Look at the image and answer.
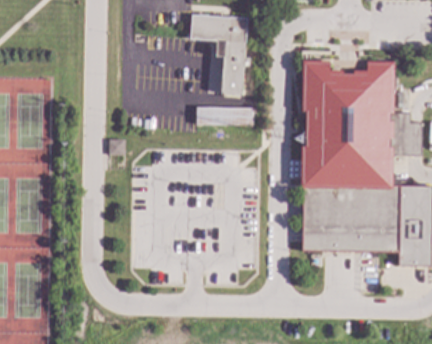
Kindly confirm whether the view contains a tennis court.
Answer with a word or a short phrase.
Yes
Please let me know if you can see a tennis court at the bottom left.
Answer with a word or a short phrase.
Yes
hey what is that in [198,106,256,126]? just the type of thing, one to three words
shed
